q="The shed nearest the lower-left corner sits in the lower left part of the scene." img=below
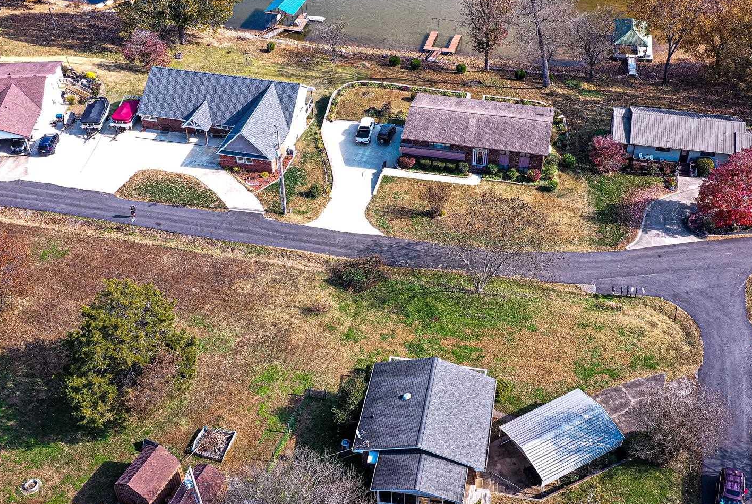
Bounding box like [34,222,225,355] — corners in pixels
[114,444,181,504]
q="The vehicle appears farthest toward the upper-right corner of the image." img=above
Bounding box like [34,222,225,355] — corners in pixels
[376,120,397,140]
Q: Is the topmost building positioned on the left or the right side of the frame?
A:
right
